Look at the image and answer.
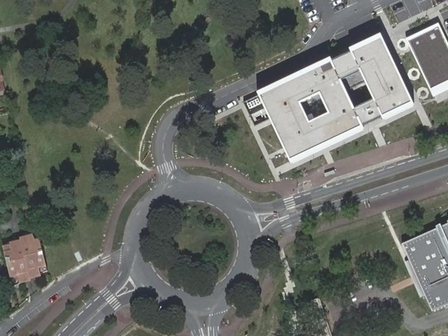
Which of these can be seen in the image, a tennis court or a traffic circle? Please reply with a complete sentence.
It is a traffic circle that can be seen here.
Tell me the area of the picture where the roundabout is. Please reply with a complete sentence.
Look in the bottom portion of the view to spot the roundabout.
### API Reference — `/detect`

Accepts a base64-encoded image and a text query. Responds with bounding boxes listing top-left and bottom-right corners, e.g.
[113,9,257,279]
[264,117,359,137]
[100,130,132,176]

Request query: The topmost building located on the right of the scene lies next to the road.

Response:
[406,24,448,97]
